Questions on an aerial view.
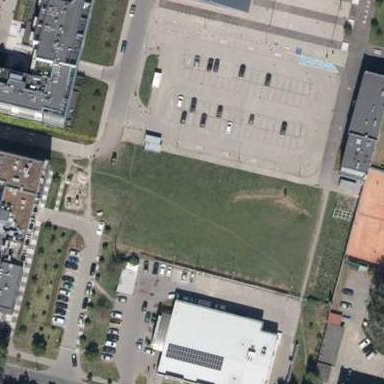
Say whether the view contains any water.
No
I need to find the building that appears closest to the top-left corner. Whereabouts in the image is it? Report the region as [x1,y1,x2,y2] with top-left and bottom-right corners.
[0,0,101,117]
